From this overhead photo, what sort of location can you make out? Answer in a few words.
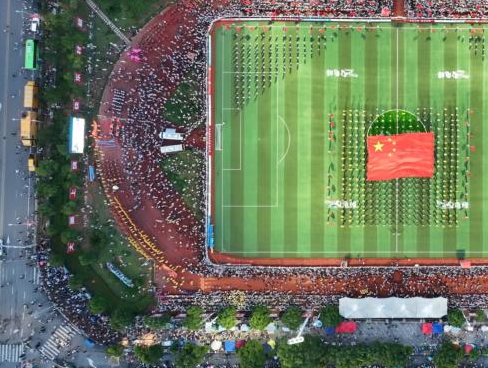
sports ground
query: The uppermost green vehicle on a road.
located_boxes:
[26,38,40,70]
